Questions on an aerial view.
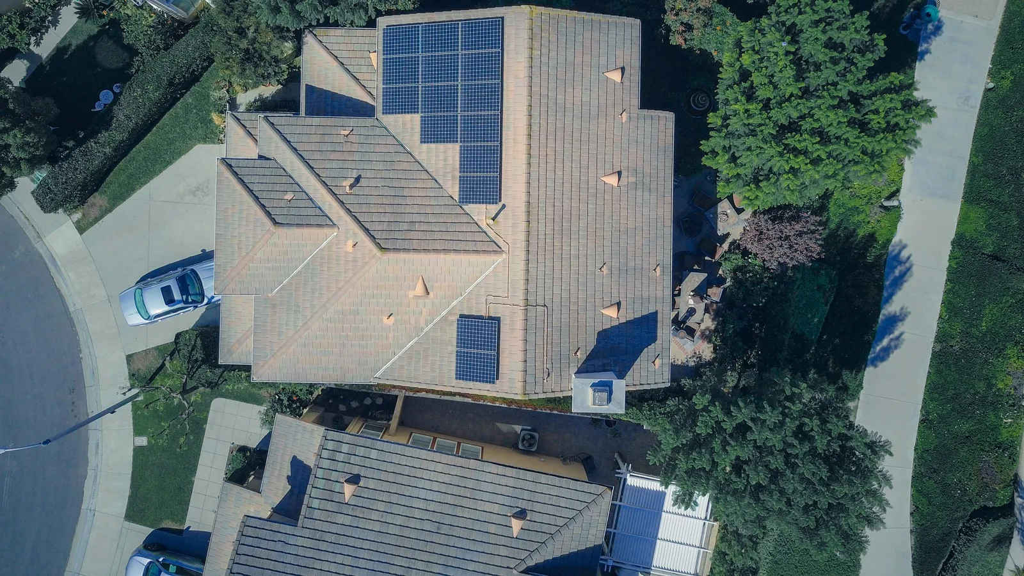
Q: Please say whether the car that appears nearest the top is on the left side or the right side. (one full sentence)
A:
The car that appears nearest the top appears in the left half of the scene.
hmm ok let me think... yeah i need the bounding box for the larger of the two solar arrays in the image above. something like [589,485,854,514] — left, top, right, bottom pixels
[380,21,501,204]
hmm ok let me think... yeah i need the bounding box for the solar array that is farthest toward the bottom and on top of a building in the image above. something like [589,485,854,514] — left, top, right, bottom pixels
[454,319,496,383]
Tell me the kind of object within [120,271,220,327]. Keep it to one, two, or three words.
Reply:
car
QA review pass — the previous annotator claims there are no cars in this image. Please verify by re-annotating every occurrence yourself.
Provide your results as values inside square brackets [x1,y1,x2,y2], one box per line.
[121,544,203,576]
[120,271,220,327]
